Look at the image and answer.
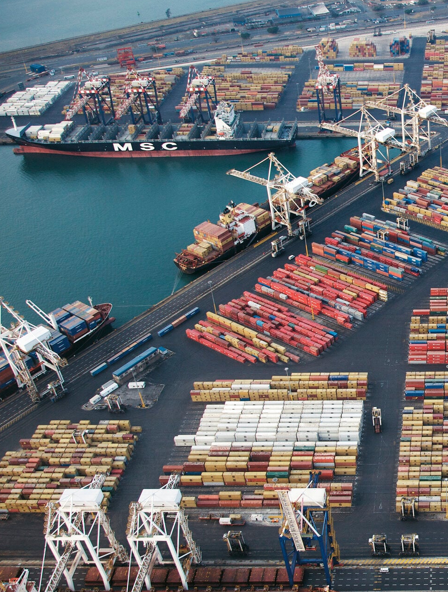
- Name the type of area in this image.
port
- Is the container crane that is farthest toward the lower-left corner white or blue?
white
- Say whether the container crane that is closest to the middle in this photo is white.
Yes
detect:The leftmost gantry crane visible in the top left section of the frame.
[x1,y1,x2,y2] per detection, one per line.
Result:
[64,67,122,130]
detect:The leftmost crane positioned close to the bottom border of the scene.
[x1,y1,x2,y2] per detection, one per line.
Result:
[33,471,125,592]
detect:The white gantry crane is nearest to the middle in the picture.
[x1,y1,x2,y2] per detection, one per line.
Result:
[233,157,327,237]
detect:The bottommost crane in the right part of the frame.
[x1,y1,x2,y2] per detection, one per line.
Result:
[272,470,339,587]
